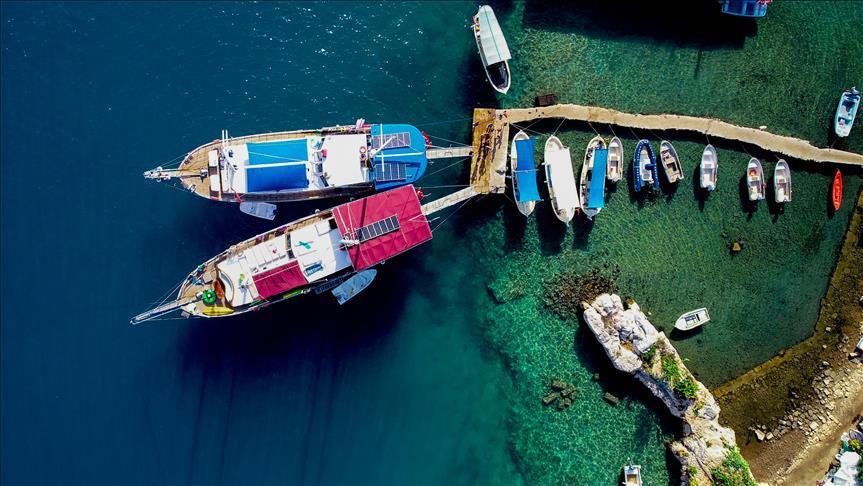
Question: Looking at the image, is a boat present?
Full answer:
Yes, the image includes a boat.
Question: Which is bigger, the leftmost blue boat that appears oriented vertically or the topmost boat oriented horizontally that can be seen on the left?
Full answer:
The topmost boat oriented horizontally that can be seen on the left is larger than the leftmost blue boat that appears oriented vertically.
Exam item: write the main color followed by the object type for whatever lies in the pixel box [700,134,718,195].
white boat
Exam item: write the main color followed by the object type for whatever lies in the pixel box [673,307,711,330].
white boat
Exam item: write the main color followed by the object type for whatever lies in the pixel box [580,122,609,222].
blue boat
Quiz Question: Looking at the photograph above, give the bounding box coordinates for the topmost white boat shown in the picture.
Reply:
[473,2,512,94]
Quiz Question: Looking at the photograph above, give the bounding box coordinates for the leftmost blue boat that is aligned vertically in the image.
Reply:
[507,118,549,220]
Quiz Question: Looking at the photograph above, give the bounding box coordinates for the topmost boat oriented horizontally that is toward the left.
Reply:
[145,118,474,200]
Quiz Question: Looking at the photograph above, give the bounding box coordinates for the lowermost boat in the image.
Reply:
[622,460,643,486]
